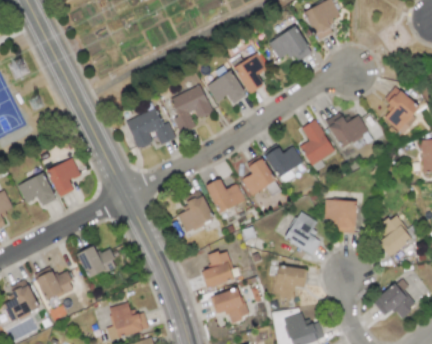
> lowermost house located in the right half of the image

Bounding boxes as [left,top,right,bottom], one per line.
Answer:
[282,310,326,344]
